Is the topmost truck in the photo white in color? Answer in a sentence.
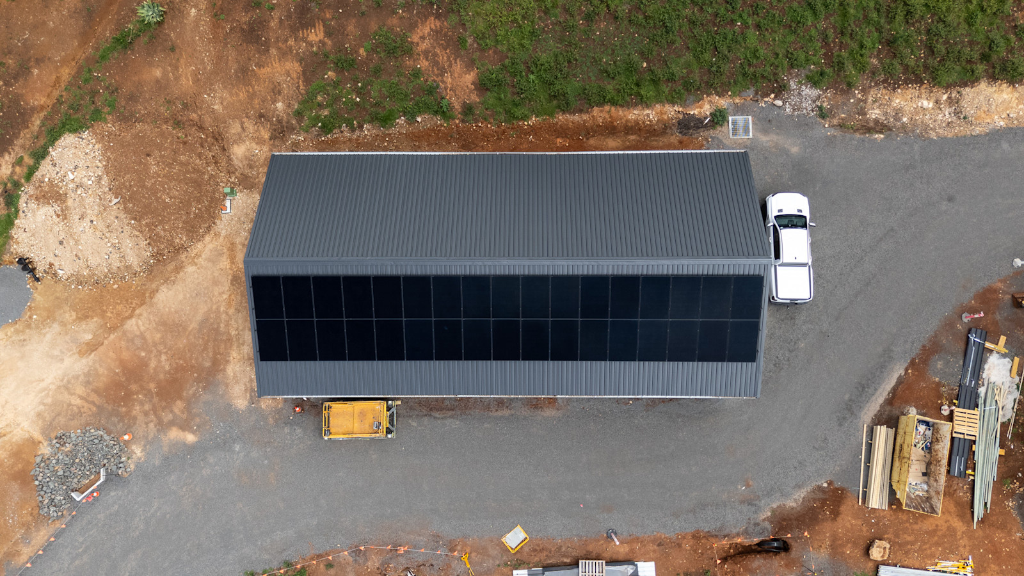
Yes, the topmost truck is white.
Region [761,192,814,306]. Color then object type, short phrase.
white truck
